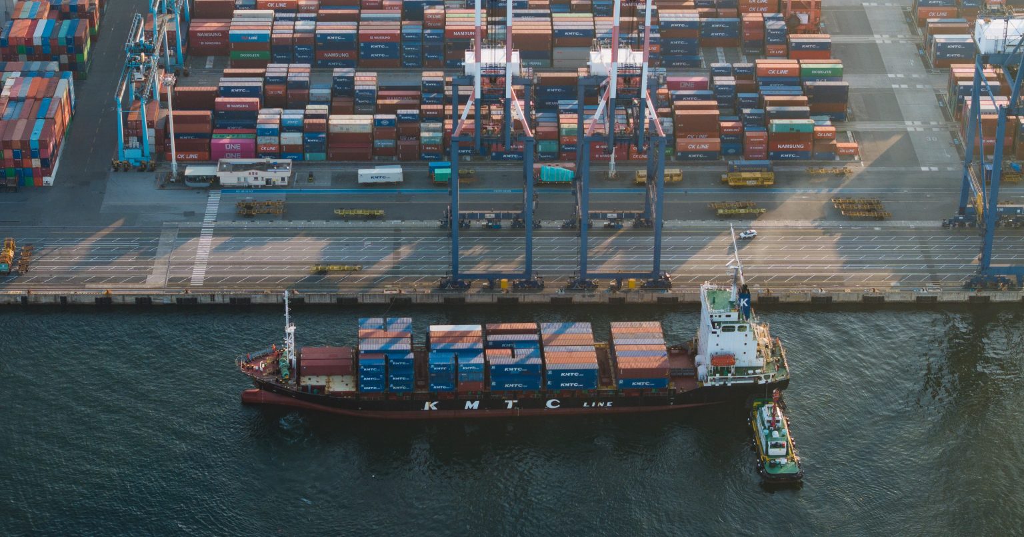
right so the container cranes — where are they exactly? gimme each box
[945,6,1024,287]
[778,0,823,37]
[560,0,676,287]
[436,0,547,287]
[158,0,200,72]
[114,49,168,170]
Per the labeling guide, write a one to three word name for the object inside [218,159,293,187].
building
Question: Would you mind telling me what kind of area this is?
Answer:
port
